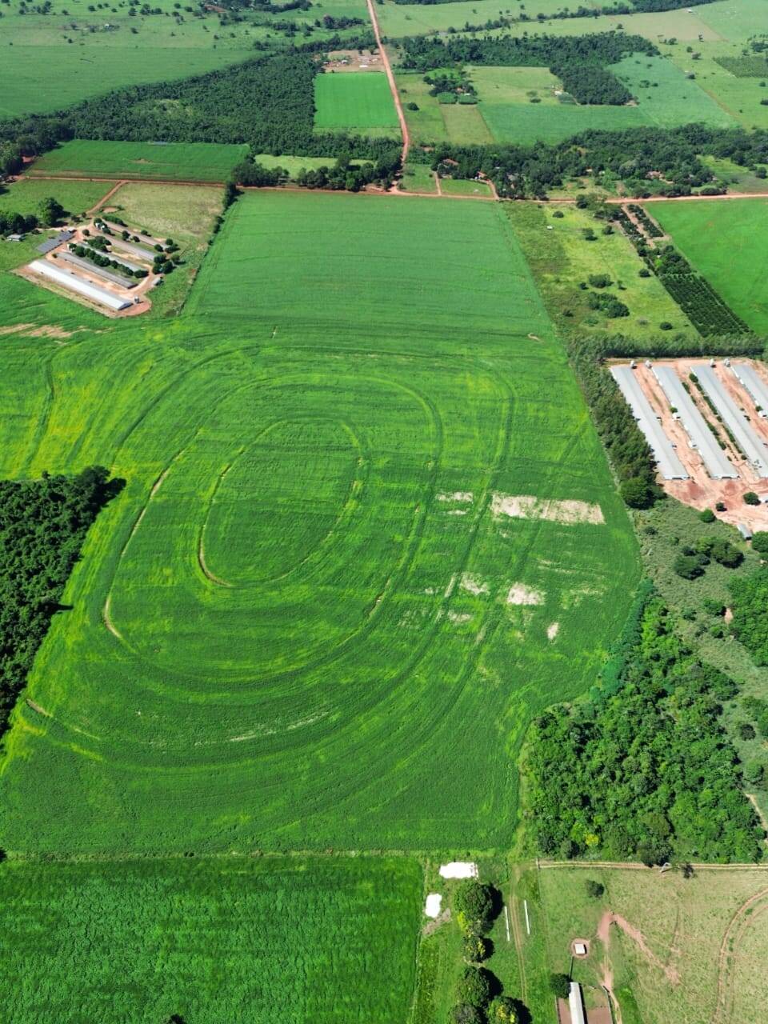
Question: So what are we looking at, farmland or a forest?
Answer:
farmland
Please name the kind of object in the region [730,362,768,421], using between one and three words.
shed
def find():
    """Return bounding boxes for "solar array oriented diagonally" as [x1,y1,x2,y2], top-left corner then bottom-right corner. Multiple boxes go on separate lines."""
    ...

[36,232,73,252]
